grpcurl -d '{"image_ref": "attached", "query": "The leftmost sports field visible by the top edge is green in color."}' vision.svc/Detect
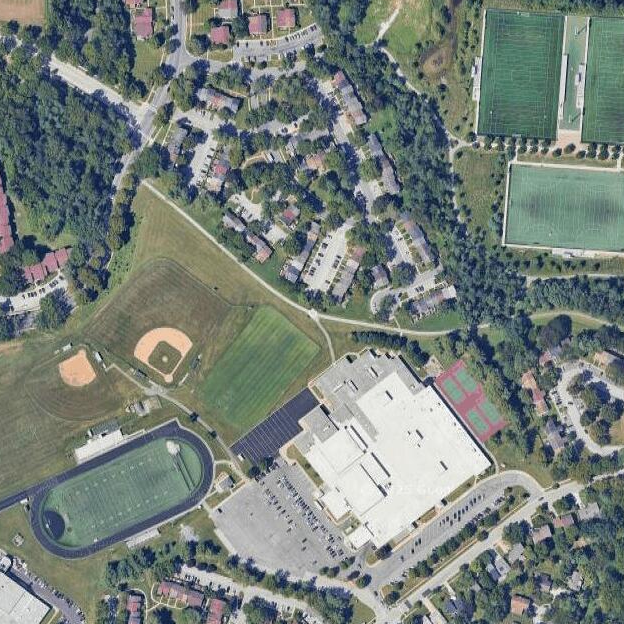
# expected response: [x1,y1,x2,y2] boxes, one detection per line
[478,11,563,141]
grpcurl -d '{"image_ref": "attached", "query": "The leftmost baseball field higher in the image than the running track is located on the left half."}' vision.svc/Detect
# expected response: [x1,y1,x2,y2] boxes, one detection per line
[59,350,95,387]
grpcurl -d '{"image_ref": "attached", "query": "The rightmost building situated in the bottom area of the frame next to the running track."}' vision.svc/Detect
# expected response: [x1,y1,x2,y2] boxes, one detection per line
[293,348,489,549]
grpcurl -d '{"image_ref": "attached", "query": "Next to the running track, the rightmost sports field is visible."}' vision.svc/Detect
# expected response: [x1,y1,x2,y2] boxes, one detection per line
[200,305,320,426]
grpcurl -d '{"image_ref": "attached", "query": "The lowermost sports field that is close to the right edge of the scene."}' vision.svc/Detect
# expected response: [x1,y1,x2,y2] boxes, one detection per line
[504,166,624,251]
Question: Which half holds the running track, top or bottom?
bottom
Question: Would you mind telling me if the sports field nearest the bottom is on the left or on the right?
left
